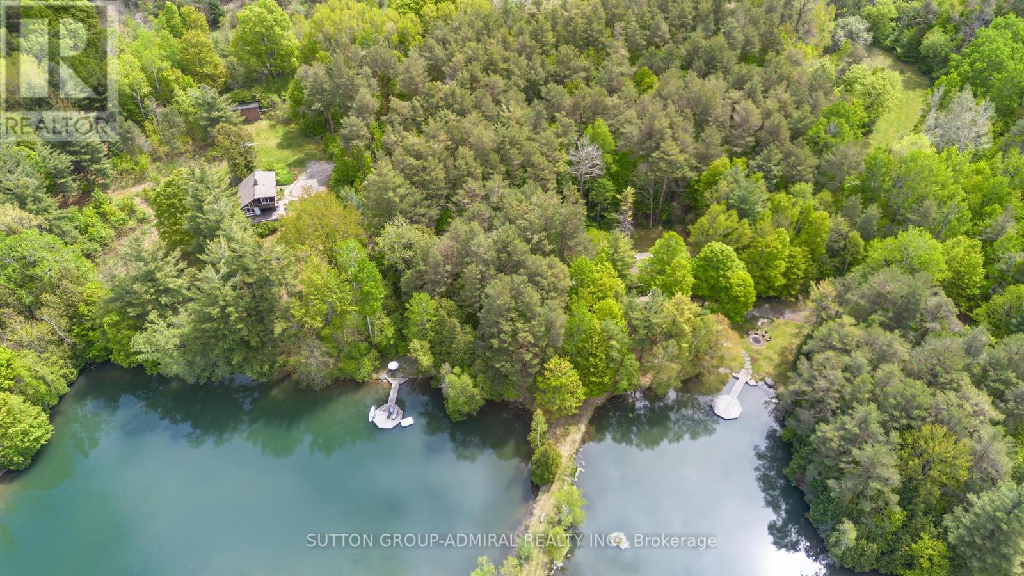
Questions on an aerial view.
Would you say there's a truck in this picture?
No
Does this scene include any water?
Yes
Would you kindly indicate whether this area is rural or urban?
rural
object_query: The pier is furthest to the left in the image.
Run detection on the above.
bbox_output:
[373,378,409,429]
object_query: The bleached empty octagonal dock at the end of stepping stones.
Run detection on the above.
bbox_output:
[711,369,751,420]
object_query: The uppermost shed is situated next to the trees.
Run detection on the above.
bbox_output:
[232,100,262,124]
